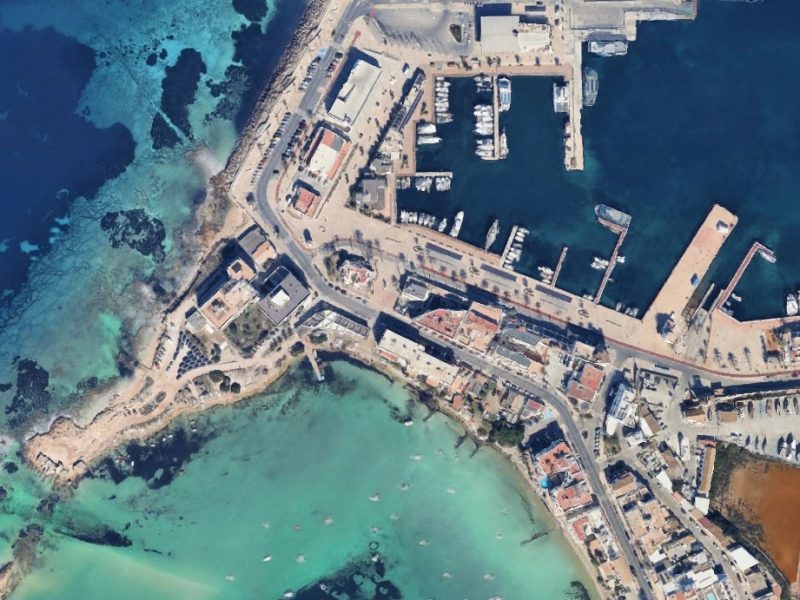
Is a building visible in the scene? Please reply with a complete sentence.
Yes, there's a building here.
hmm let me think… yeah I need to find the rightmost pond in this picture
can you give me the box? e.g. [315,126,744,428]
[721,457,800,587]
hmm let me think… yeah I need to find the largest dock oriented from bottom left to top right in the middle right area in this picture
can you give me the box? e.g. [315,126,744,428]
[641,204,737,335]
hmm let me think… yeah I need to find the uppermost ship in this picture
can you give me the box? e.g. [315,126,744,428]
[588,41,627,54]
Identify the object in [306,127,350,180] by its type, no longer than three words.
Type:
building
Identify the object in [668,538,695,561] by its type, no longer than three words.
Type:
house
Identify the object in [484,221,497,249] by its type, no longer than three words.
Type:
boat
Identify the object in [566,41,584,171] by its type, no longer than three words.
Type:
pier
